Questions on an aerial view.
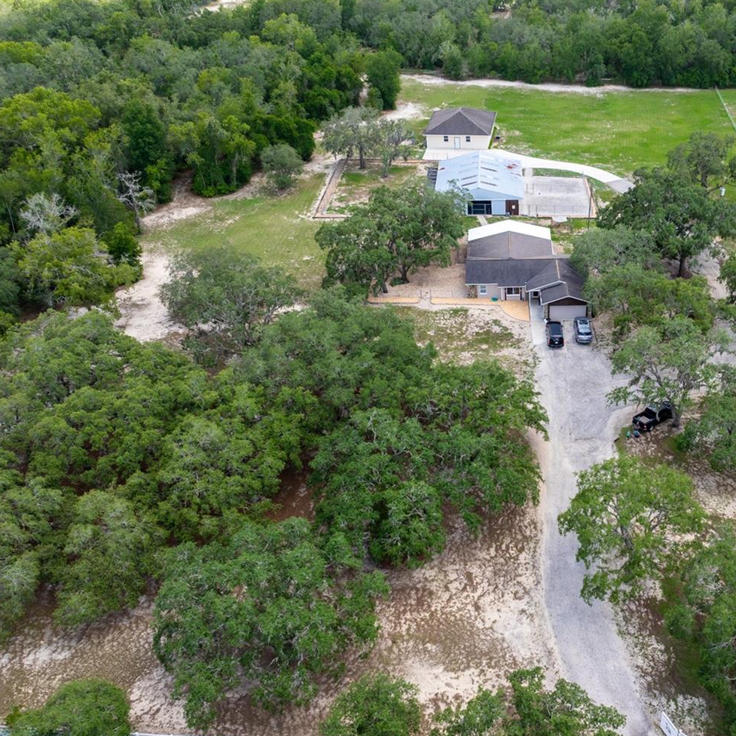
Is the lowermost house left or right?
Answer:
right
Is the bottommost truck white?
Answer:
No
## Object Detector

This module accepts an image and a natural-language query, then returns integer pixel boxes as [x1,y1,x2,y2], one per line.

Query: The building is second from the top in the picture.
[429,148,523,216]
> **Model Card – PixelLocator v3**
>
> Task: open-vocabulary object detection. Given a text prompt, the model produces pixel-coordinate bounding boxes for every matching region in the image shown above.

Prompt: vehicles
[546,319,565,343]
[575,316,594,339]
[638,398,677,433]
